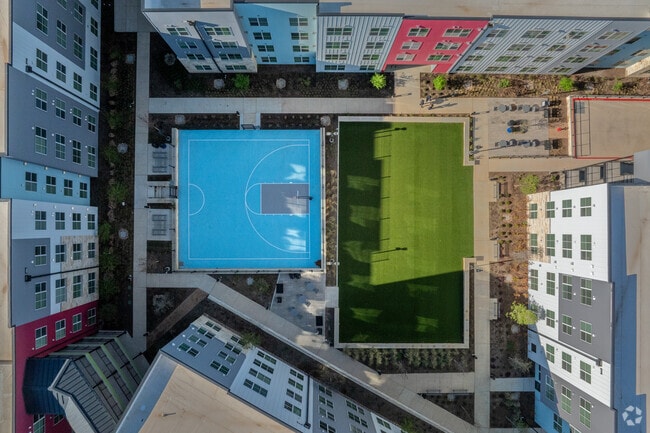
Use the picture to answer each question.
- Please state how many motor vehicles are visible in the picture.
0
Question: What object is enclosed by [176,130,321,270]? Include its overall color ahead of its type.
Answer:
blue basketball court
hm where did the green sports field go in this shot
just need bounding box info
[340,121,474,343]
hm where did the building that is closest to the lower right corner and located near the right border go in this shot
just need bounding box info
[526,182,650,433]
